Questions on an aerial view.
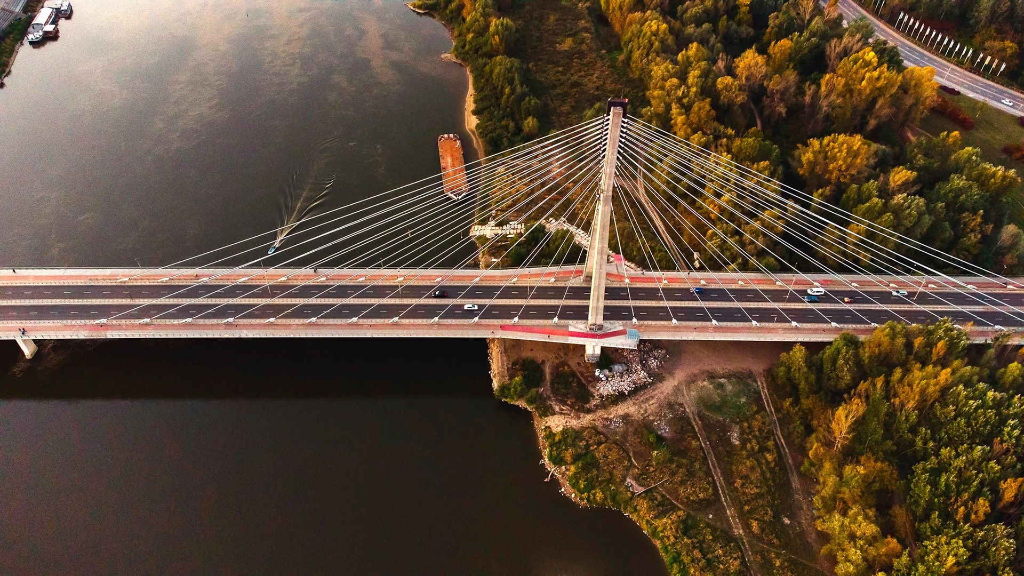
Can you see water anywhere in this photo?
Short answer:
Yes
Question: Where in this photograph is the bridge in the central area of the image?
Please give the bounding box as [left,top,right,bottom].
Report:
[0,93,1024,361]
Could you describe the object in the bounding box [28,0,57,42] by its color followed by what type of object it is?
white boat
